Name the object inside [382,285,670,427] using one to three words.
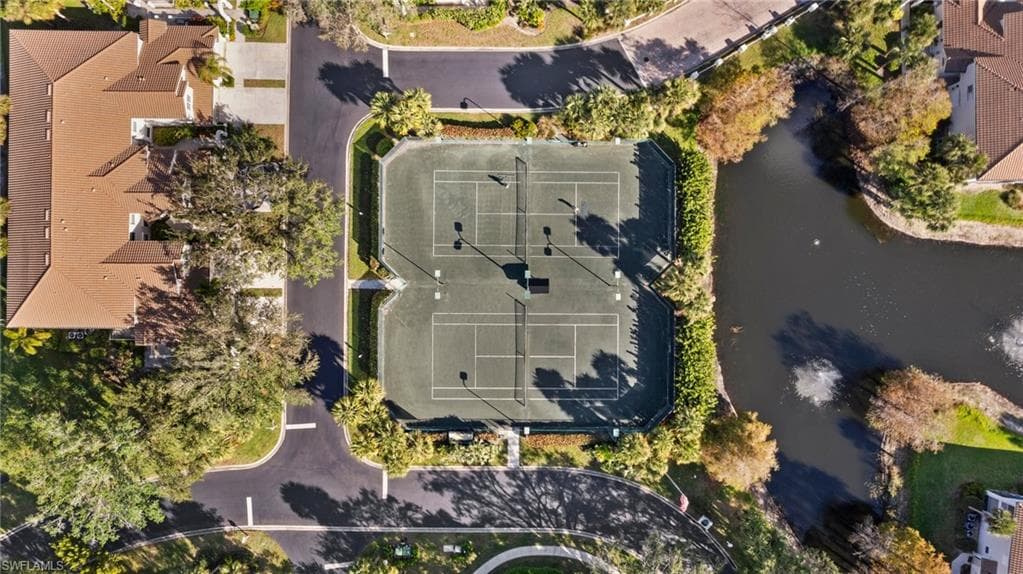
tennis court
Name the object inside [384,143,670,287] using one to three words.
tennis court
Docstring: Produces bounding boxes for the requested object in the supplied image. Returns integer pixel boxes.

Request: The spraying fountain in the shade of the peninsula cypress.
[783,348,848,414]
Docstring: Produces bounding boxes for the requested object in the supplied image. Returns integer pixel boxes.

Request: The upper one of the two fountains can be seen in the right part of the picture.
[985,315,1023,372]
